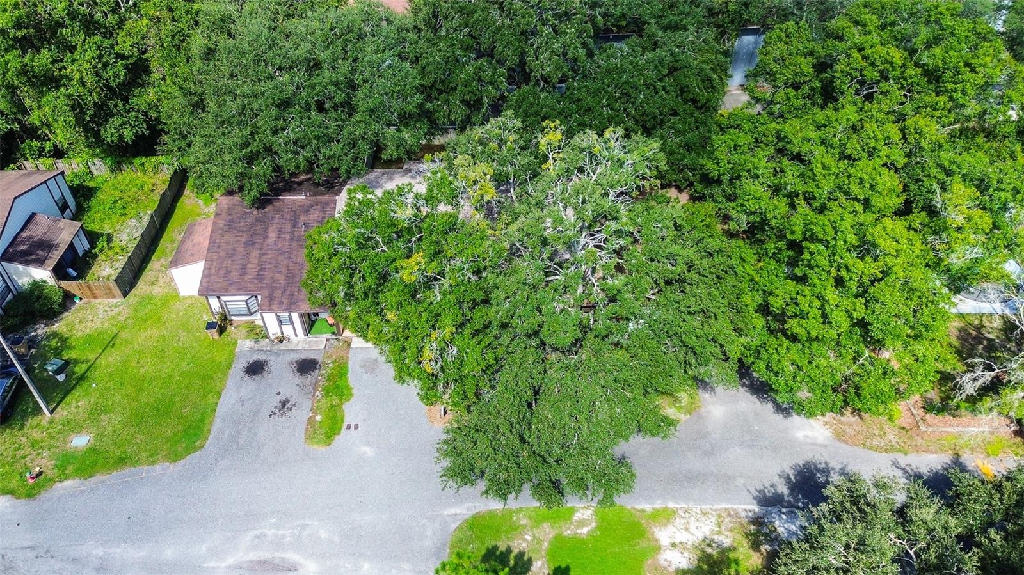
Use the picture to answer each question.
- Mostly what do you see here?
trees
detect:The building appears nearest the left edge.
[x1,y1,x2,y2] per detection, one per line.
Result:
[0,170,95,295]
